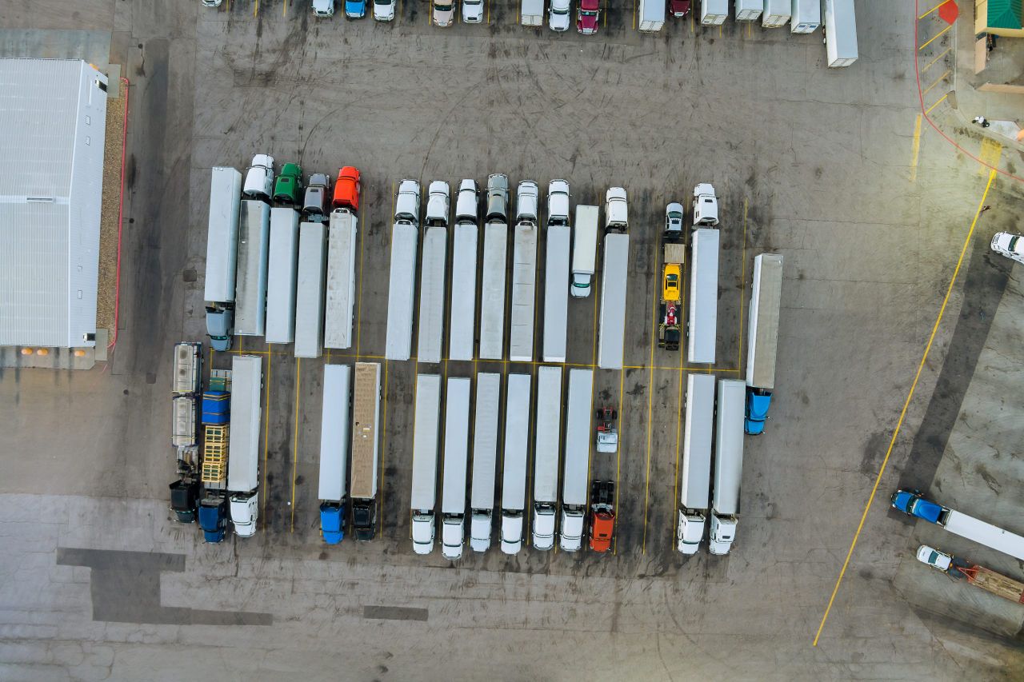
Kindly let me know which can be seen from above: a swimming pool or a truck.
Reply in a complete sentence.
Of the two, only a truck appears.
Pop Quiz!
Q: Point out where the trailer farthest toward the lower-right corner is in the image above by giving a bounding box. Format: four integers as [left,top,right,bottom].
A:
[957,564,1024,606]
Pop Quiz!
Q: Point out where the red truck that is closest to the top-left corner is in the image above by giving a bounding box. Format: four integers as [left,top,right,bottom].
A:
[333,167,360,229]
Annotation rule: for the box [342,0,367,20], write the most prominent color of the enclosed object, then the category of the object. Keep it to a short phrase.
blue vehicle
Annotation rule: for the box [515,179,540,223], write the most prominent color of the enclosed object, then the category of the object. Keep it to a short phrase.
white truck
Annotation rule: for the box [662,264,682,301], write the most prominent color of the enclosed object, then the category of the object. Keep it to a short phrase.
yellow car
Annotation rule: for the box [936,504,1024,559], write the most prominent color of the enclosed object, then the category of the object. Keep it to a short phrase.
white trailer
